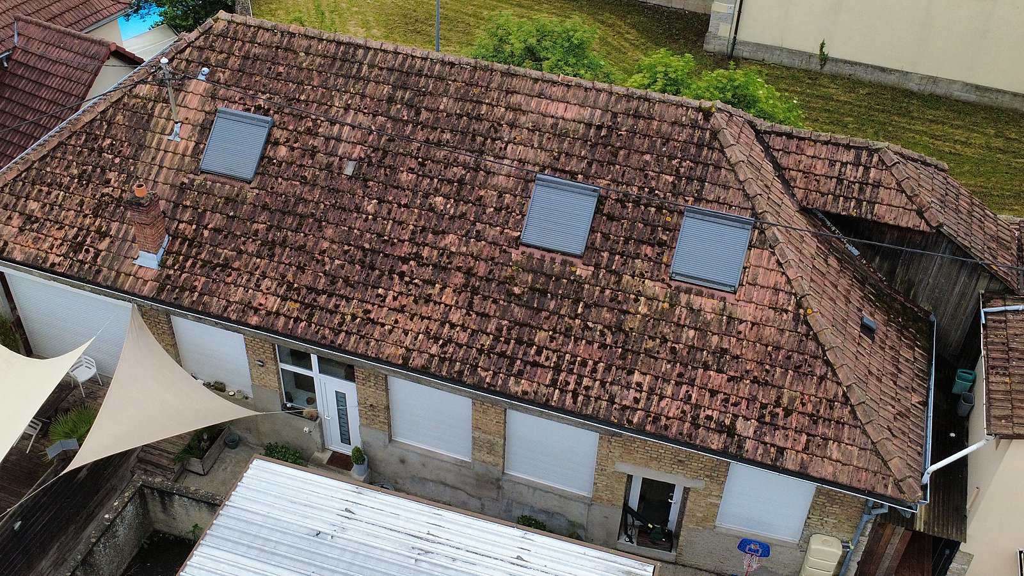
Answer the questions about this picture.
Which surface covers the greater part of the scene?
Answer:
buildings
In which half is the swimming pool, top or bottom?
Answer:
top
